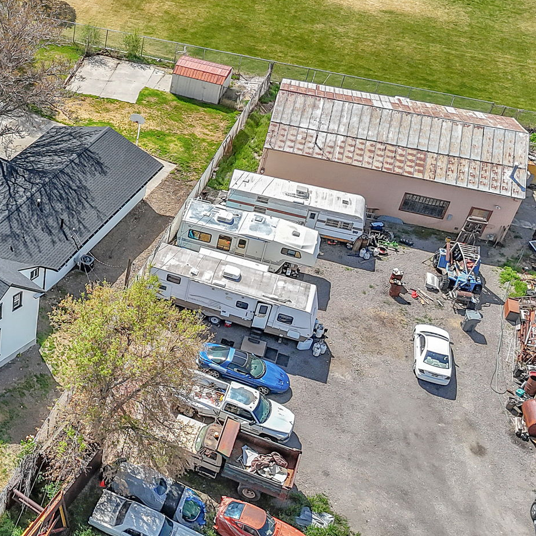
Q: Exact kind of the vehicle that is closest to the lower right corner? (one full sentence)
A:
The vehicle that is closest to the lower right corner in the image is a car.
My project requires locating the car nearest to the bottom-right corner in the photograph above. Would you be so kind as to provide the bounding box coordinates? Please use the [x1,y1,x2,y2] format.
[411,321,459,390]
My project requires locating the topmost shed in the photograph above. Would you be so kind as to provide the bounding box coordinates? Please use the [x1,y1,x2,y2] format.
[170,54,233,104]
